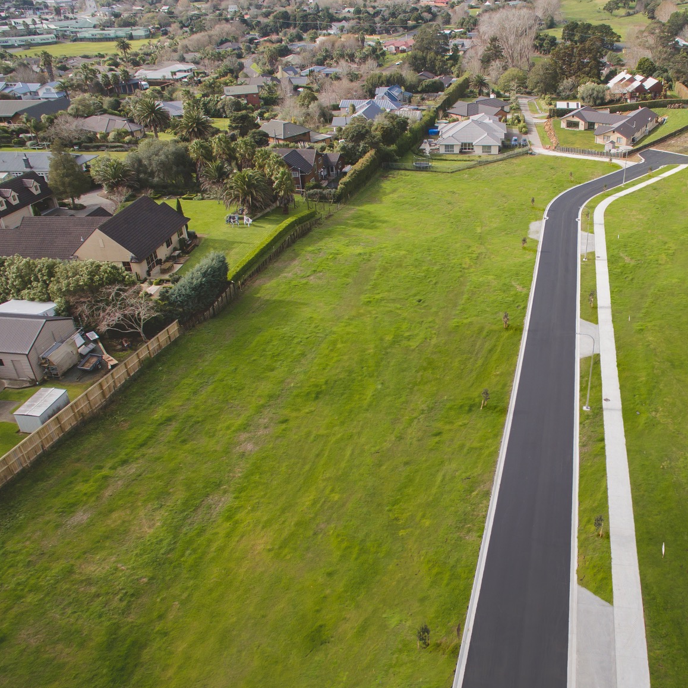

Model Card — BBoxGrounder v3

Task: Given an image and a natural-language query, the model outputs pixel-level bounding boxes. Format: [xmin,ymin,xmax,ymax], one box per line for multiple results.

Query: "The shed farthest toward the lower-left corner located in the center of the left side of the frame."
[16,387,73,433]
